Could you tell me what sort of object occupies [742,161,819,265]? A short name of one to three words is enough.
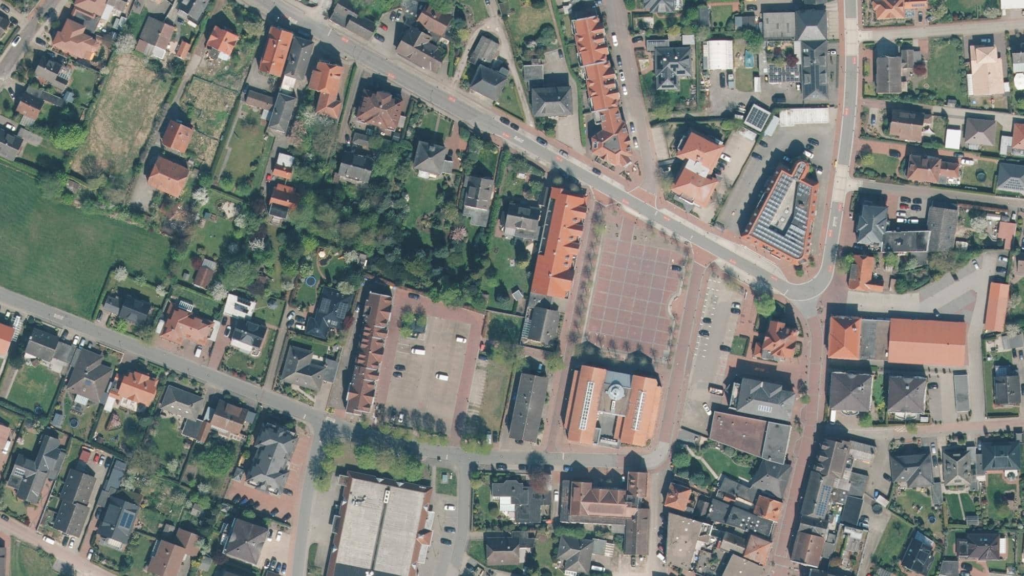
building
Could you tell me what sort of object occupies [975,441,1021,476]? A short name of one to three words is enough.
house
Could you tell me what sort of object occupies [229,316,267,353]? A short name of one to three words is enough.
house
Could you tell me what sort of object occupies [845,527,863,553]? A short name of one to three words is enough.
shed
